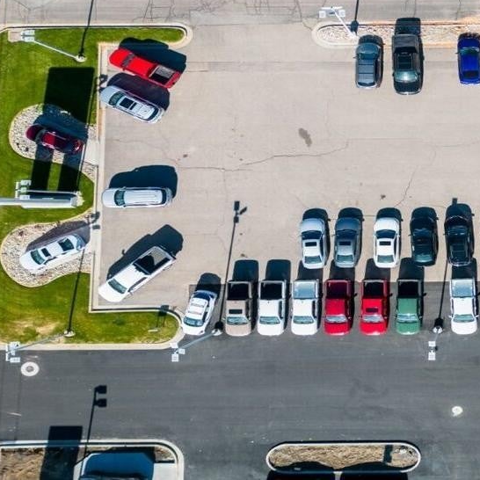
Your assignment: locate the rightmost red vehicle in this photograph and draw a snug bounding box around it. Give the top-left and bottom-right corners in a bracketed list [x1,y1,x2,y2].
[359,277,389,336]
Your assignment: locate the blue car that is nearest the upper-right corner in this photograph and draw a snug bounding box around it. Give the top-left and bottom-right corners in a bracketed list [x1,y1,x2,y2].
[456,38,480,86]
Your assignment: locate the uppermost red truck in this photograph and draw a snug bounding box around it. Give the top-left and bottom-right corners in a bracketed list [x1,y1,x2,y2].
[106,50,184,88]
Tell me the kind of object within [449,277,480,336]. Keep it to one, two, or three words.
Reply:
truck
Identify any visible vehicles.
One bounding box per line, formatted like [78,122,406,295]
[288,277,320,336]
[18,237,87,269]
[101,186,173,211]
[373,215,402,266]
[179,289,217,337]
[98,87,166,121]
[24,124,85,153]
[106,50,184,88]
[322,277,353,336]
[409,215,438,266]
[359,277,389,336]
[456,38,480,86]
[391,30,424,93]
[449,277,480,336]
[445,214,475,265]
[352,38,382,88]
[96,249,182,297]
[392,277,424,336]
[298,216,329,267]
[332,216,362,267]
[220,277,254,336]
[255,275,287,336]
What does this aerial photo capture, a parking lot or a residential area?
parking lot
